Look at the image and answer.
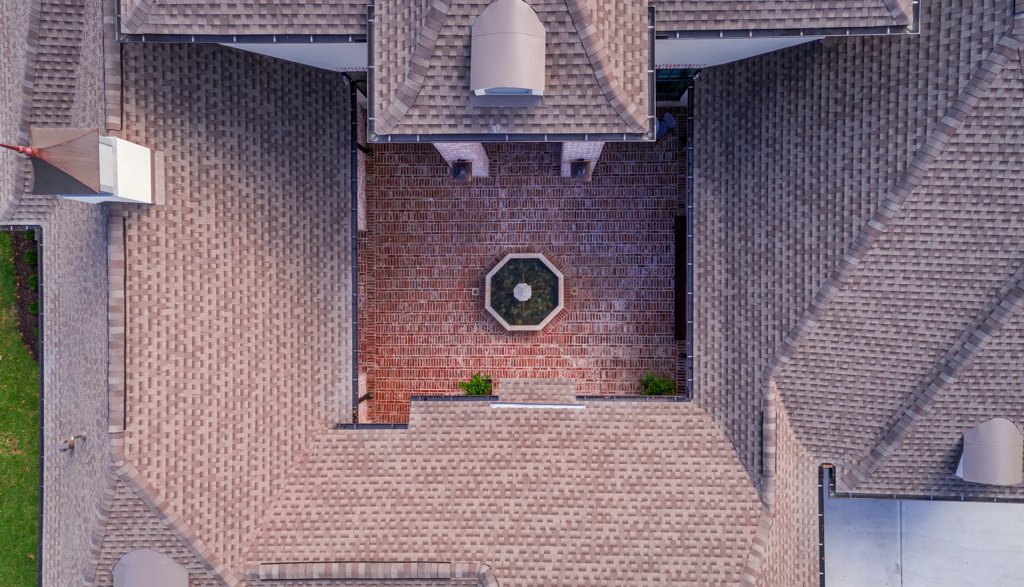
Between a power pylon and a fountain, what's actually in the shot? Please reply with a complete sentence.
Of the two, only a fountain appears.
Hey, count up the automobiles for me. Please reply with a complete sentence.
There are no automobiles in the image.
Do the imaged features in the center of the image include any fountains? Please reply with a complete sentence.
Yes, a fountain shows up in the center of the image.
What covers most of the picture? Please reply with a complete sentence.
Most of the picture is covered by buildings.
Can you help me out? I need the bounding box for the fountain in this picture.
[485,252,564,331]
